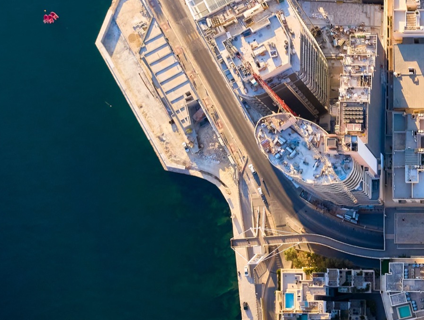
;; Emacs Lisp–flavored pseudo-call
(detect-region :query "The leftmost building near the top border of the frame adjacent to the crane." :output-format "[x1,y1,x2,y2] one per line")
[196,0,330,114]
